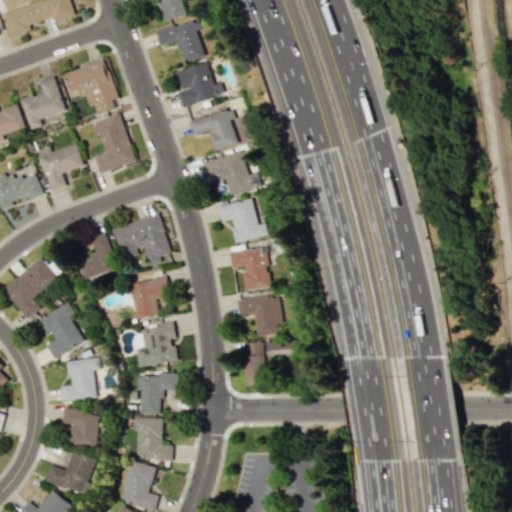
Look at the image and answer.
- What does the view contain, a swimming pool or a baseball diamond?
swimming pool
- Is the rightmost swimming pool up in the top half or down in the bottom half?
top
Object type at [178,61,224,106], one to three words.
house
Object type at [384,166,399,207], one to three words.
vehicle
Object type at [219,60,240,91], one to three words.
swimming pool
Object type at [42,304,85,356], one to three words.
house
